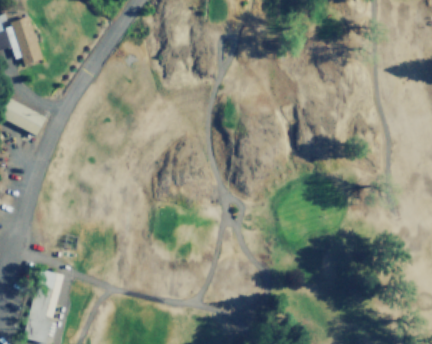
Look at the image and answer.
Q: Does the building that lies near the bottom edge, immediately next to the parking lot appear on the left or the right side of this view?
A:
left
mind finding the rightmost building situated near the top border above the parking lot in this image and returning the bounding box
[7,14,43,65]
